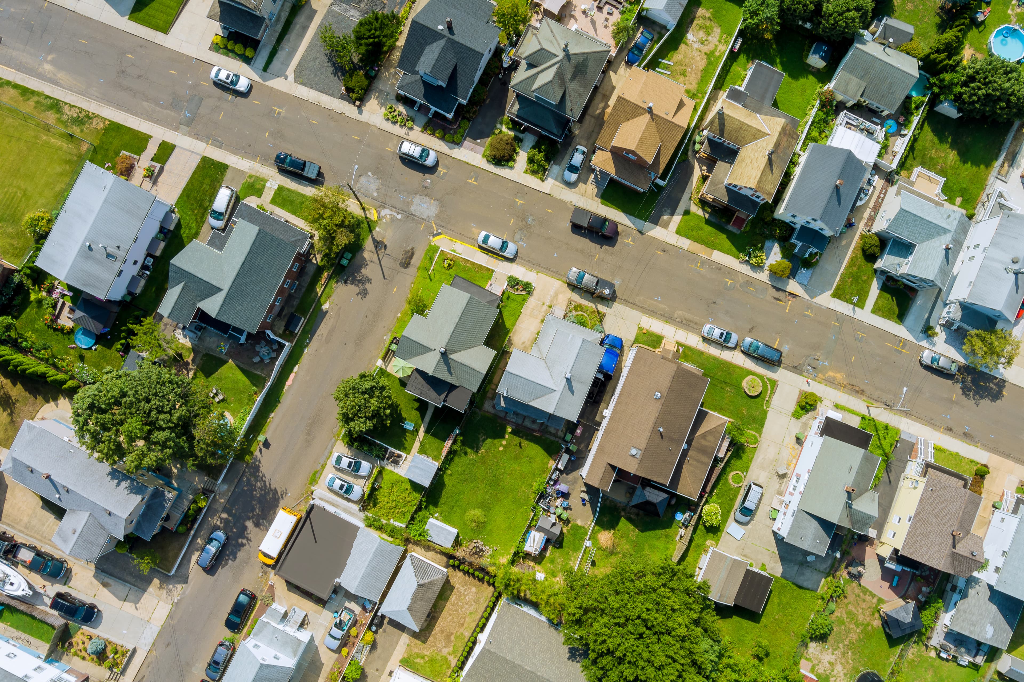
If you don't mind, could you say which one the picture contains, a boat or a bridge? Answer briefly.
boat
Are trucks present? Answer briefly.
Yes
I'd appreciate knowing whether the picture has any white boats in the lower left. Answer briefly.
Yes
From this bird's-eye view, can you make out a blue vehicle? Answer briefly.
Yes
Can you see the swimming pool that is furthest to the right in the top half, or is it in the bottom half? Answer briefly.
top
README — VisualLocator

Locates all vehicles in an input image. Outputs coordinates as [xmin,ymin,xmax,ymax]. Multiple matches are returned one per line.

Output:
[624,26,656,66]
[844,222,857,227]
[917,349,960,375]
[207,183,239,229]
[730,479,765,522]
[329,451,373,477]
[396,140,438,168]
[46,590,99,625]
[323,472,365,499]
[195,529,230,572]
[274,148,323,177]
[565,267,616,298]
[739,338,785,366]
[324,605,355,649]
[257,504,303,567]
[208,66,253,93]
[569,208,618,238]
[476,231,518,258]
[7,542,69,577]
[205,638,235,681]
[564,143,589,186]
[225,587,257,632]
[588,330,627,399]
[700,321,738,345]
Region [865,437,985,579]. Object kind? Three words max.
house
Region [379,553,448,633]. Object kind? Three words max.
building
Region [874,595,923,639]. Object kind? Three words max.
gazebo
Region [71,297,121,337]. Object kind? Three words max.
gazebo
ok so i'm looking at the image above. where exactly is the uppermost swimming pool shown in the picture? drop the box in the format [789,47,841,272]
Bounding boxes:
[986,23,1024,59]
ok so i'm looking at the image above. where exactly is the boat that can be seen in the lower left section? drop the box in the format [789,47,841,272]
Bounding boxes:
[0,568,40,599]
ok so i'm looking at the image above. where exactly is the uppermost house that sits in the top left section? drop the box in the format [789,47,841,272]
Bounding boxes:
[206,0,283,48]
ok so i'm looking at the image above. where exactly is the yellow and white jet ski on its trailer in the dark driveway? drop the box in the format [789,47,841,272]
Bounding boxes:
[499,42,517,76]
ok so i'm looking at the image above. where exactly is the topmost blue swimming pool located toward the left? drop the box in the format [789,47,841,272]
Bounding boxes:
[73,326,100,349]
